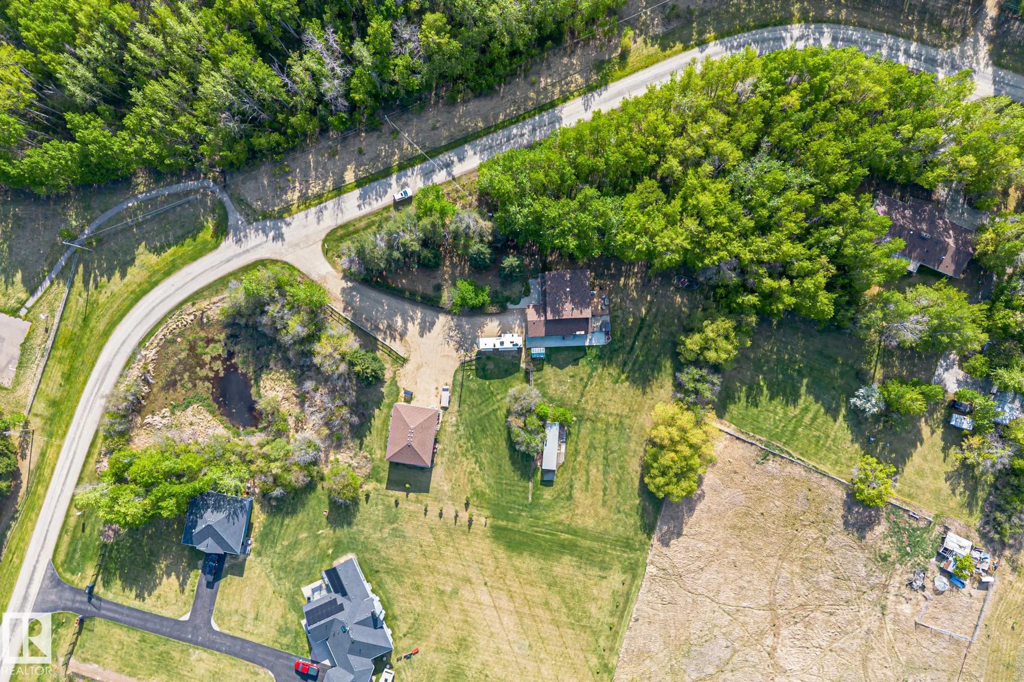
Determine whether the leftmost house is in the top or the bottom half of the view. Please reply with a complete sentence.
The bottom half of the photo is where the leftmost house is.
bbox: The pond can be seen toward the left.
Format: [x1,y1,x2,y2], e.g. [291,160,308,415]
[213,358,264,428]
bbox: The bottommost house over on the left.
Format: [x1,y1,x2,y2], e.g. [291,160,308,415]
[303,553,394,682]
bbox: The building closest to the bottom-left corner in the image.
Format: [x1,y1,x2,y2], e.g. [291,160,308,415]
[181,491,258,557]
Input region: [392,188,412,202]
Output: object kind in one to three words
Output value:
car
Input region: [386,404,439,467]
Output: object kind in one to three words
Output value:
building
